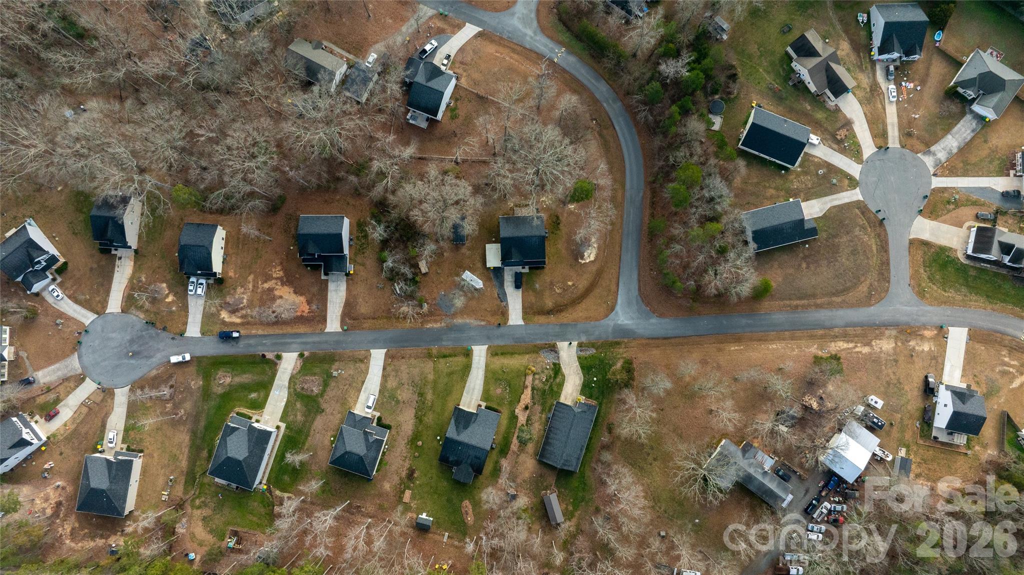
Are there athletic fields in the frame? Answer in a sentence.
No, no athletic field is visible in the view.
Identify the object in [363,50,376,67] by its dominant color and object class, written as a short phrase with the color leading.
white vehicle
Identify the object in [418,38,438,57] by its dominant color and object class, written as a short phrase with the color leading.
white vehicle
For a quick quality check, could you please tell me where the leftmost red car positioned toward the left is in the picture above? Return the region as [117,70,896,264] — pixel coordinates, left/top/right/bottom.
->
[41,407,59,423]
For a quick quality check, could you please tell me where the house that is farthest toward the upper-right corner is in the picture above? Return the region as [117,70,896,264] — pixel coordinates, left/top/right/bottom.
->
[947,45,1024,120]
